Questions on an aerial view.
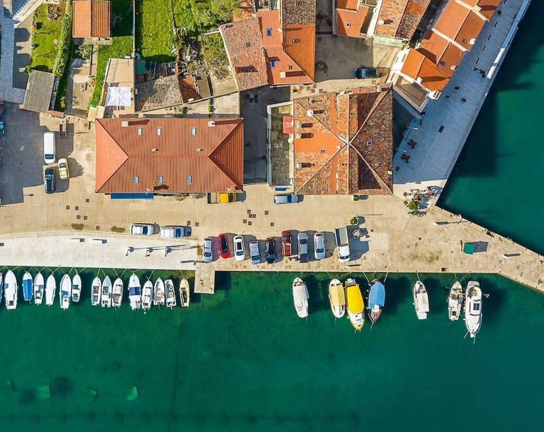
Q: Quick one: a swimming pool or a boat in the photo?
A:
boat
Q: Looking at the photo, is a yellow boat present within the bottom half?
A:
Yes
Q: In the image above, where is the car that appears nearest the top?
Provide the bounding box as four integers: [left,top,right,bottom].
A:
[354,66,377,79]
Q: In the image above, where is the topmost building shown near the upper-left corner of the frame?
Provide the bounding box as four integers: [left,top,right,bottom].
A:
[72,0,112,37]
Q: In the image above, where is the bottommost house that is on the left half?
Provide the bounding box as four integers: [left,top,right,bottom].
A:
[95,117,243,193]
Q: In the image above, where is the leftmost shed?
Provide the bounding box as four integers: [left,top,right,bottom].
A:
[22,69,58,112]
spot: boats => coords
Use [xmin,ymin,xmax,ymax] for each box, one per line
[128,269,142,314]
[329,273,347,318]
[178,269,190,308]
[71,266,83,302]
[112,267,124,311]
[58,273,72,314]
[3,266,19,313]
[32,266,45,309]
[366,272,385,325]
[412,272,430,320]
[101,275,113,311]
[446,273,463,325]
[44,272,57,310]
[90,267,102,310]
[291,271,310,318]
[21,266,34,304]
[164,279,177,311]
[462,279,482,338]
[141,275,154,314]
[153,269,165,310]
[344,276,364,332]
